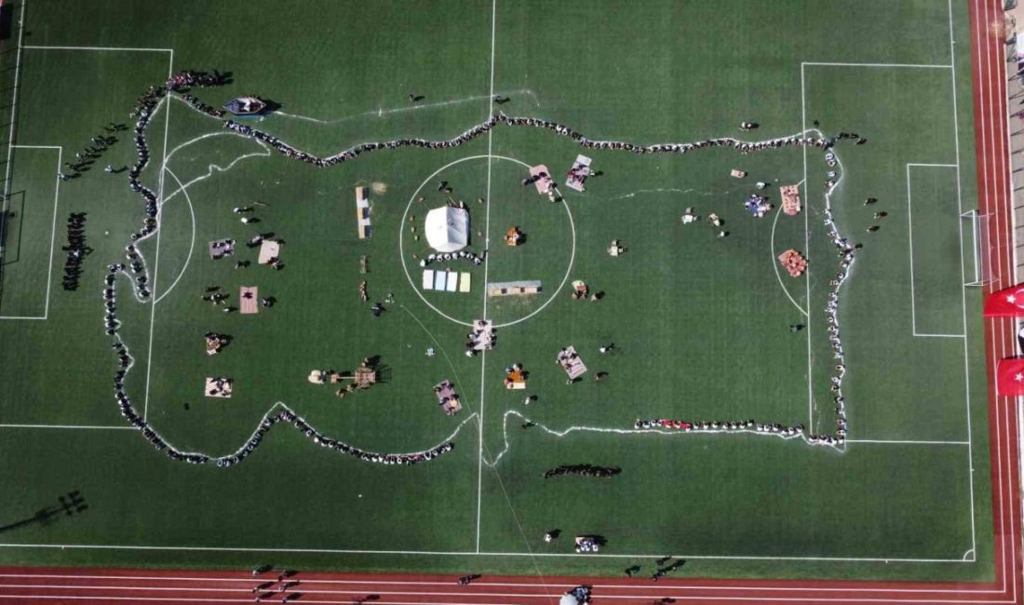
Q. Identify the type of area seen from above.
sports ground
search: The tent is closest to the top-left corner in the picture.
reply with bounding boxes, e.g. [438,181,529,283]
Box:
[415,198,485,256]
